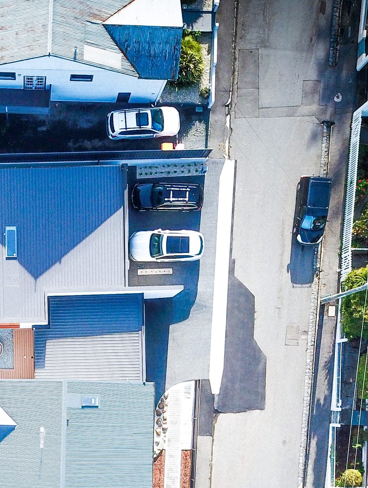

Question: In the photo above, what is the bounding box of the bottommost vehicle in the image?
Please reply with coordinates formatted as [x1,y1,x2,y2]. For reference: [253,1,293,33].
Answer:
[128,227,201,264]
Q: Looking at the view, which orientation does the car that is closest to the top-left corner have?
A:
from side to side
